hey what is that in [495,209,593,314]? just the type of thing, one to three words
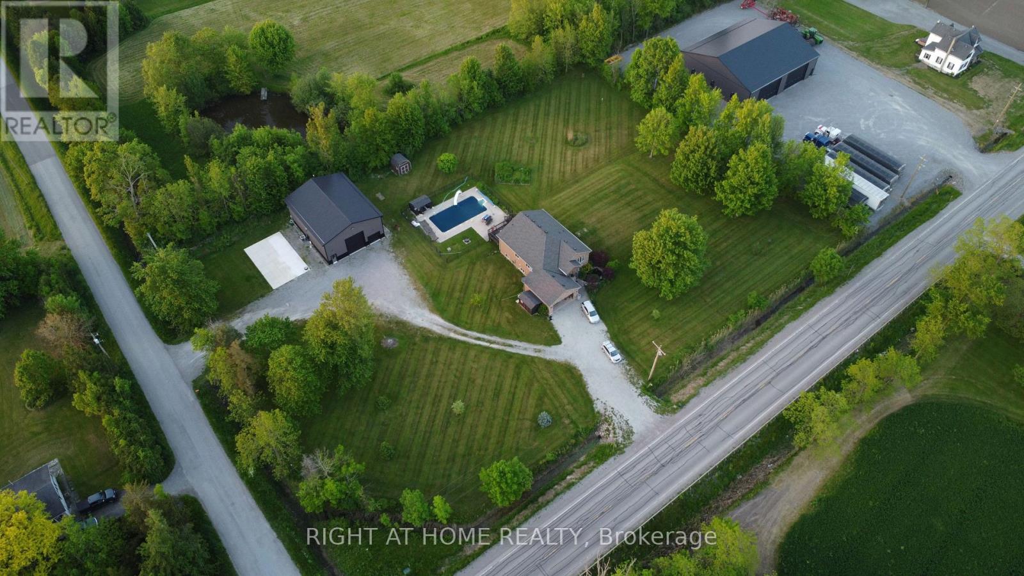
house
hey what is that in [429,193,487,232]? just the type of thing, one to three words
swimming pool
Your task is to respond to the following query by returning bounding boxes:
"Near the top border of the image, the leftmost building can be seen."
[680,18,822,110]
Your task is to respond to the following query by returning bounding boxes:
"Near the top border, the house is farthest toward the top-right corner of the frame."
[906,18,995,76]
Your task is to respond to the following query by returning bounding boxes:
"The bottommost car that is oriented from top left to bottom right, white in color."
[601,339,625,363]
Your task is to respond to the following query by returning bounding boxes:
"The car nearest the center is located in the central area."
[580,297,602,322]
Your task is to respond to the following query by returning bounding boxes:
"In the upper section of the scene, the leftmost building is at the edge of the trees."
[284,172,387,265]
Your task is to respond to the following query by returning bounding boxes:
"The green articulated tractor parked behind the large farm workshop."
[799,28,826,48]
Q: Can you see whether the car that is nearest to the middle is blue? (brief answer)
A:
No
